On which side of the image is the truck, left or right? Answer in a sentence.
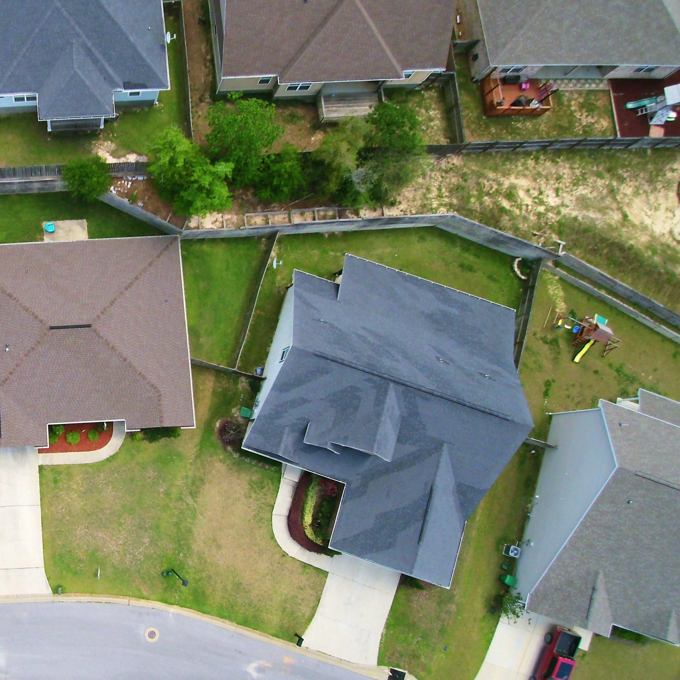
The truck sits on the right side.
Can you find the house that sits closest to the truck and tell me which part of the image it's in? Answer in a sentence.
The house that sits closest to the truck appears toward the bottom right of the photo.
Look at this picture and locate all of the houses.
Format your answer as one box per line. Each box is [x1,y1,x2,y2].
[505,388,680,647]
[0,234,196,451]
[237,253,535,591]
[204,0,458,97]
[458,0,680,81]
[0,0,171,134]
